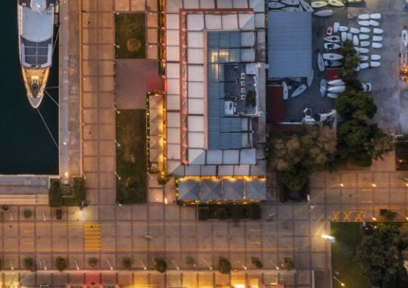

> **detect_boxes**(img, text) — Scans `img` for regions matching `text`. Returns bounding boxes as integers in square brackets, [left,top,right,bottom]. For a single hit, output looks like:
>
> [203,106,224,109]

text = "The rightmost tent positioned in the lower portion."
[242,177,266,205]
